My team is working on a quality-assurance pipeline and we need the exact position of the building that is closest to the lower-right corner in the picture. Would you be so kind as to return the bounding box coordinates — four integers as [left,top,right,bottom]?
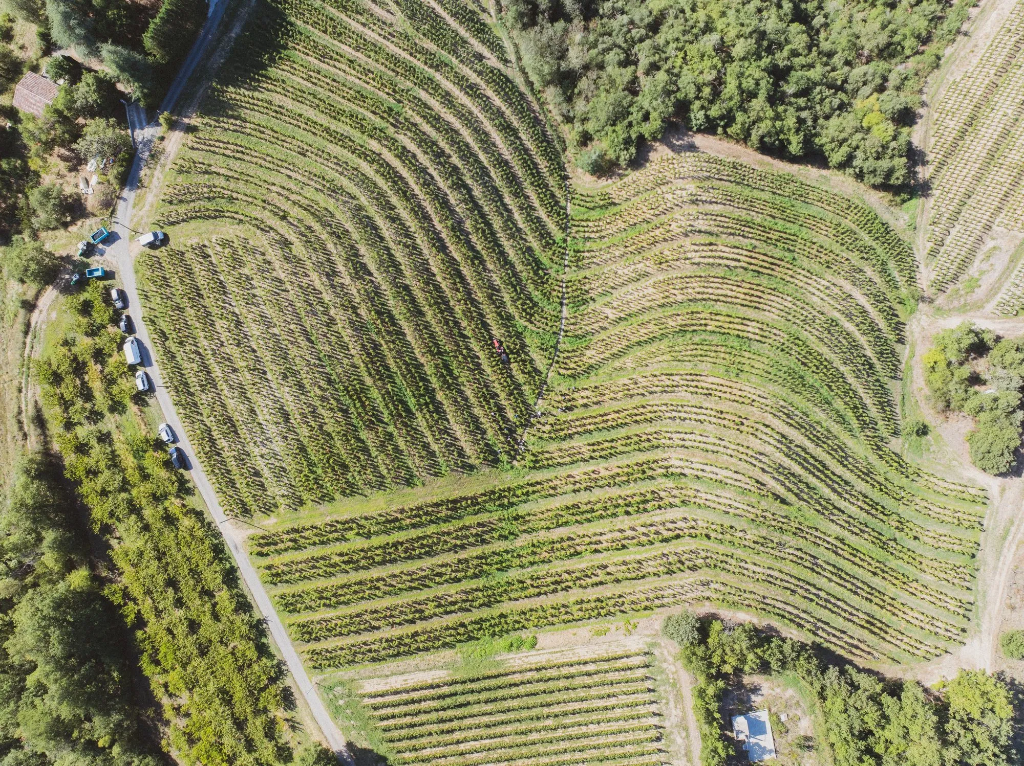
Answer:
[729,711,748,739]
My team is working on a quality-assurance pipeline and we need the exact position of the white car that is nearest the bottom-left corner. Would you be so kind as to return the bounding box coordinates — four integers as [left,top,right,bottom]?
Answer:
[159,423,174,444]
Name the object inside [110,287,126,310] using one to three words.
car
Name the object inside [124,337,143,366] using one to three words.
vehicle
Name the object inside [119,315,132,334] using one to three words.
vehicle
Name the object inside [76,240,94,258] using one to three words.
work vehicle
